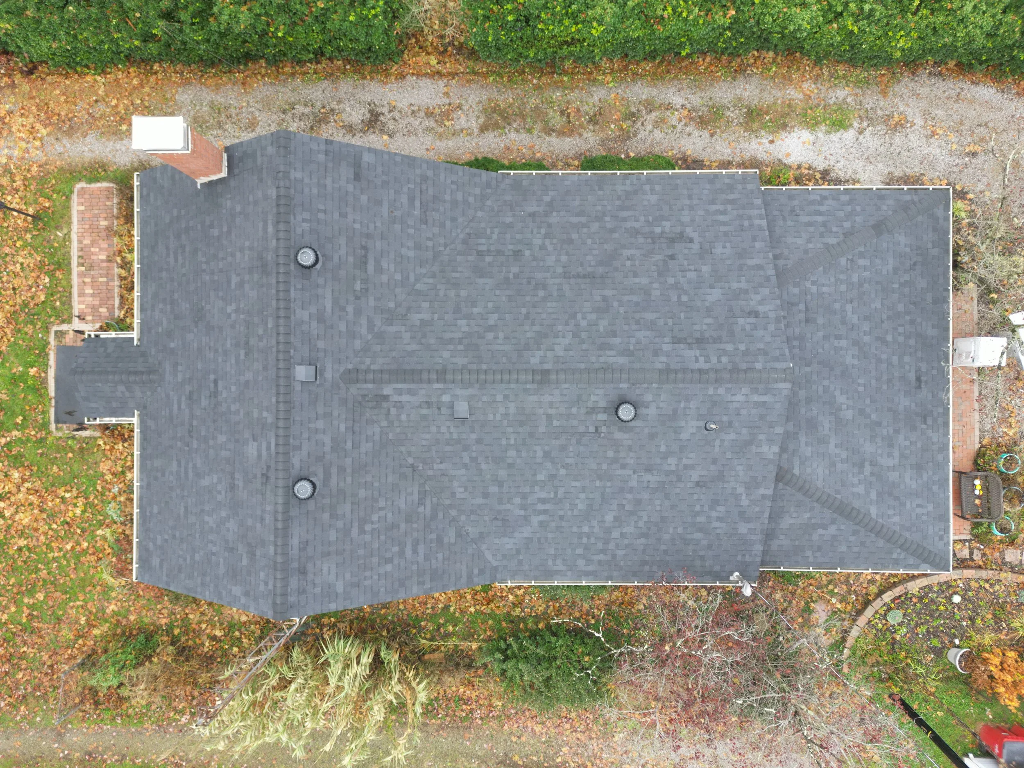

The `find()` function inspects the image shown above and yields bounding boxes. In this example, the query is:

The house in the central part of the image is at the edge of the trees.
[54,113,952,622]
